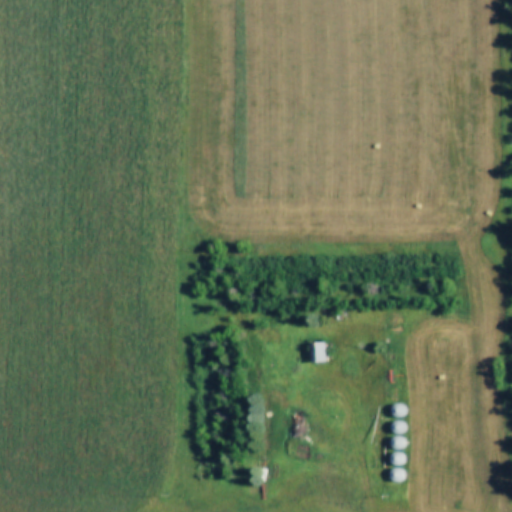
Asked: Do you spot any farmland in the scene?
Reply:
Yes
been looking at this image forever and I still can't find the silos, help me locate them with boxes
[390,468,406,484]
[390,452,406,467]
[391,402,408,418]
[391,436,408,451]
[392,420,408,435]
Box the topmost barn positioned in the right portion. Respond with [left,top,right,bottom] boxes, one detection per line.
[312,342,328,363]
